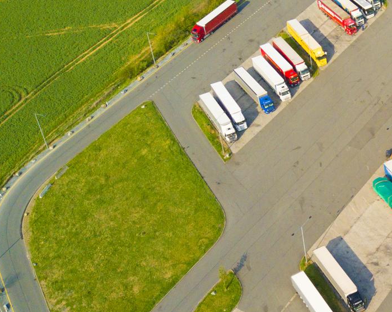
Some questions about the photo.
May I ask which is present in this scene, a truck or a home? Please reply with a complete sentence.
The one in the frame is a truck.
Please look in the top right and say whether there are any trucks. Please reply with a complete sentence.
Yes, a truck can be seen in the top right.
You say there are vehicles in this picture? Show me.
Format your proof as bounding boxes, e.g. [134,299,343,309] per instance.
[319,0,358,36]
[291,271,333,312]
[199,93,237,143]
[289,21,326,66]
[211,82,247,132]
[331,0,366,26]
[314,247,367,312]
[349,0,376,19]
[252,56,291,103]
[366,0,382,10]
[233,67,275,114]
[191,0,237,43]
[374,174,392,206]
[273,37,311,83]
[262,44,300,89]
